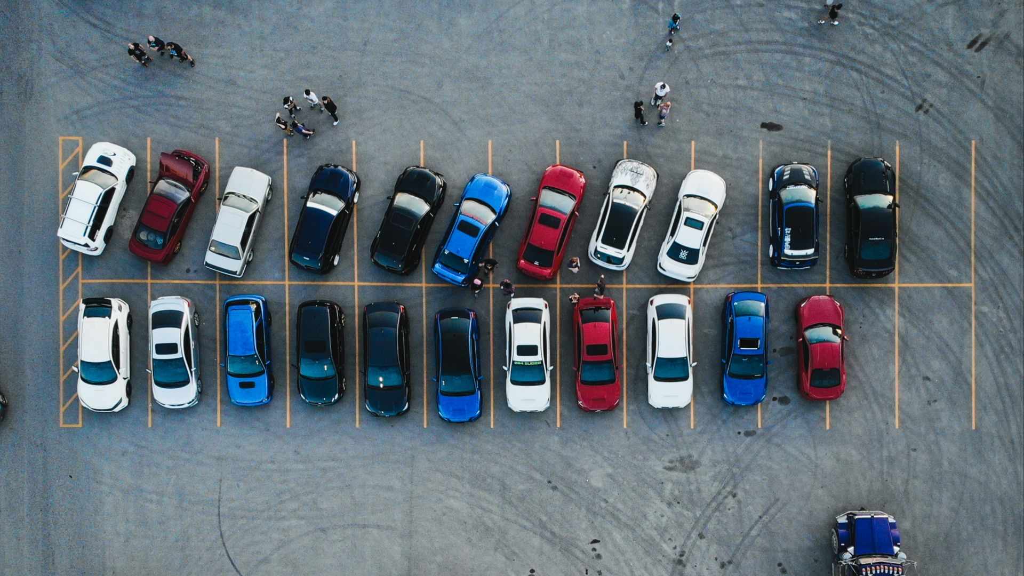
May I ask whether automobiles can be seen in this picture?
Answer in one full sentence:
Yes, there is an automobile in the image.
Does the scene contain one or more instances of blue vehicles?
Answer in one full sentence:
Yes, there's a blue vehicle here.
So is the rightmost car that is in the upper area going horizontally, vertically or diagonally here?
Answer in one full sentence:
Seen from above, the rightmost car that is in the upper area lies vertically.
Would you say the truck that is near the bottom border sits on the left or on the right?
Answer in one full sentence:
The truck that is near the bottom border sits on the right side.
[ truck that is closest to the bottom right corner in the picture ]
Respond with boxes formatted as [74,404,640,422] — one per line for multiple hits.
[830,508,926,576]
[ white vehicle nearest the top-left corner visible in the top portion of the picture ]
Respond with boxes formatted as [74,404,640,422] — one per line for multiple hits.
[52,140,136,253]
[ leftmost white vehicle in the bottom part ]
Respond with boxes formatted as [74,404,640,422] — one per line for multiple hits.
[73,296,134,411]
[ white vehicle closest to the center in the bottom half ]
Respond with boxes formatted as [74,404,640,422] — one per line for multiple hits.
[500,297,556,412]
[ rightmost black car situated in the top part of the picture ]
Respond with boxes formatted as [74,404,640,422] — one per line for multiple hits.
[844,157,905,278]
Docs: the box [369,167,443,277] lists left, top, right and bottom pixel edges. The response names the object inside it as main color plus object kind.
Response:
black car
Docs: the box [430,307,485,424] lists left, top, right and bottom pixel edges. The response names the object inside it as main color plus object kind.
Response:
blue car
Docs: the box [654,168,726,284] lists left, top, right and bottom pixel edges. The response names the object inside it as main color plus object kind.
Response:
white car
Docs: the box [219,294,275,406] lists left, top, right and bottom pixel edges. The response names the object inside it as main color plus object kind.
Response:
blue car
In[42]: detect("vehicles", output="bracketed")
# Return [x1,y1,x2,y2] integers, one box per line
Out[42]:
[844,157,905,278]
[219,294,275,406]
[654,168,726,284]
[644,293,699,409]
[431,173,509,286]
[357,301,413,418]
[795,294,852,401]
[720,289,775,406]
[73,296,134,411]
[588,159,657,269]
[288,167,359,275]
[130,154,208,263]
[369,167,443,277]
[830,508,926,576]
[292,298,348,407]
[203,161,275,275]
[570,296,626,411]
[513,164,584,280]
[0,387,8,417]
[769,161,826,272]
[500,297,556,412]
[430,307,485,424]
[143,293,203,410]
[52,140,136,253]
